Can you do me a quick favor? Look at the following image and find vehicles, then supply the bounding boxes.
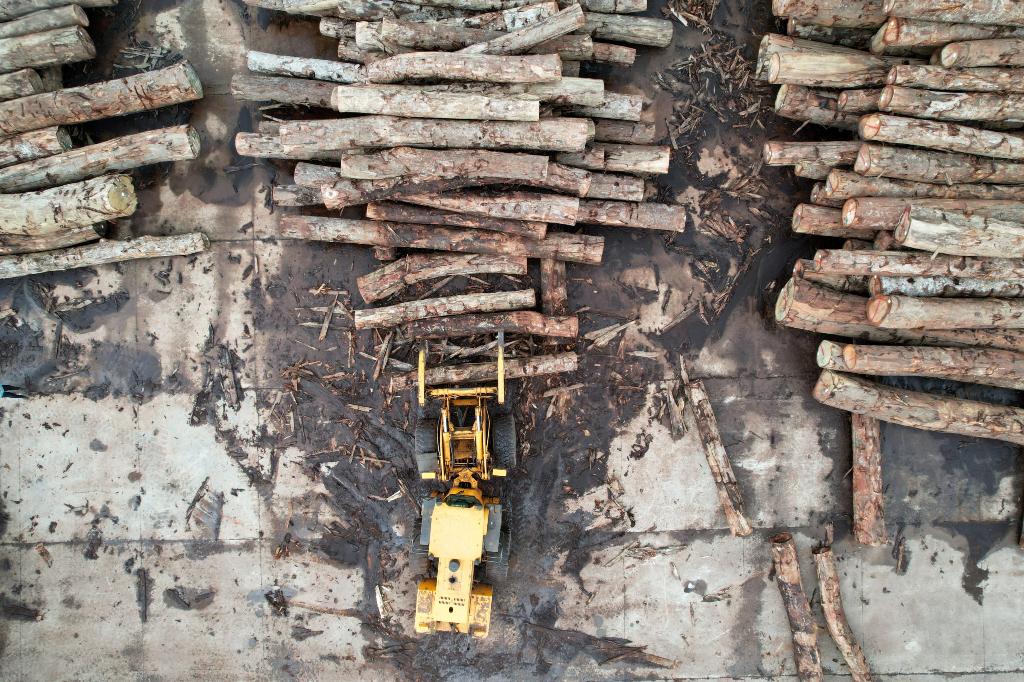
[406,331,517,654]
